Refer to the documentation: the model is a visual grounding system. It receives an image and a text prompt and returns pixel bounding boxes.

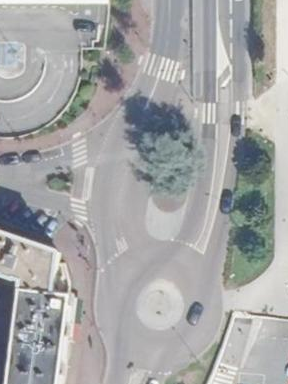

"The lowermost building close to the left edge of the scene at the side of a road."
[4,287,76,384]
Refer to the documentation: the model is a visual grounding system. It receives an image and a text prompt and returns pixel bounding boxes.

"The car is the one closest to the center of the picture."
[220,190,232,212]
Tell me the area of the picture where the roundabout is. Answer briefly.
bottom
